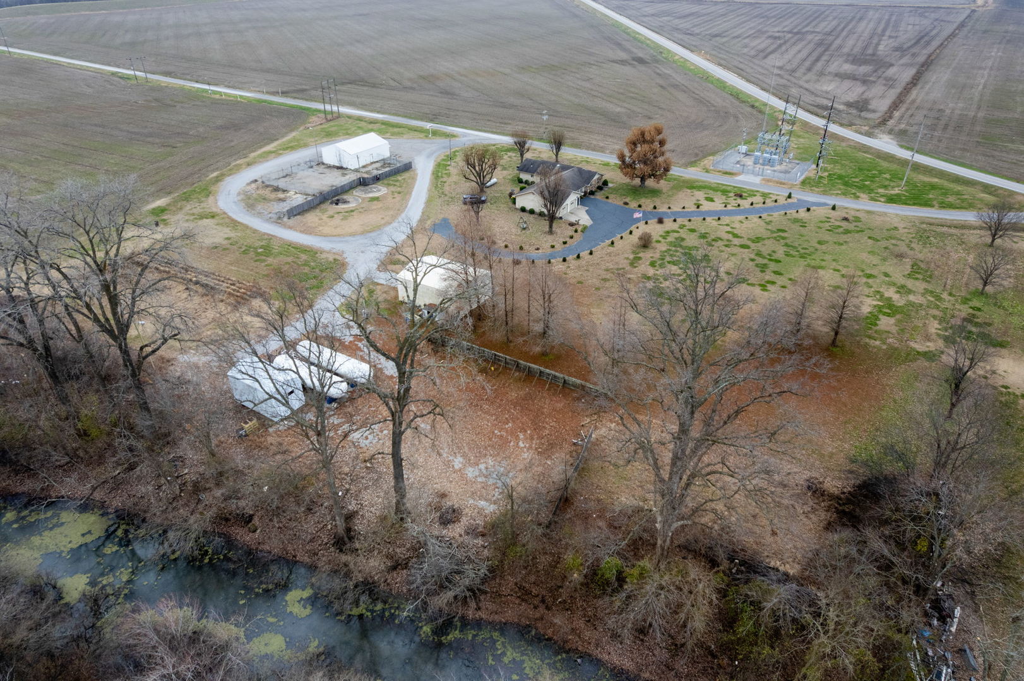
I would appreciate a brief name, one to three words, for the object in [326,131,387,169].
shed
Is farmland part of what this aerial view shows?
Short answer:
Yes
